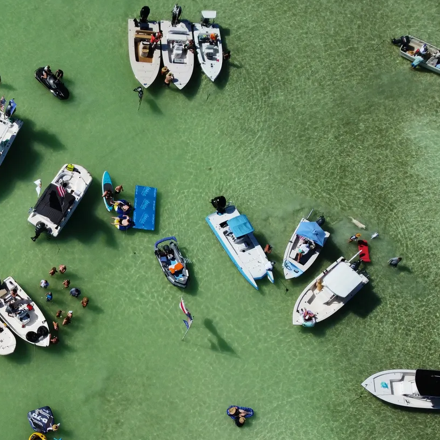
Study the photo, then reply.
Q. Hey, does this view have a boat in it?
Yes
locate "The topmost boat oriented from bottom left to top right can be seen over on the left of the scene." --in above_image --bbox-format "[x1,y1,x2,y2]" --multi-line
[29,165,90,239]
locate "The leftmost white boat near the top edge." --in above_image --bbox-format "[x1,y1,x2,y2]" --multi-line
[129,5,160,88]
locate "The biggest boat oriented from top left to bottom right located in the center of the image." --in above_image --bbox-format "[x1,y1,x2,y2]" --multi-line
[205,194,283,291]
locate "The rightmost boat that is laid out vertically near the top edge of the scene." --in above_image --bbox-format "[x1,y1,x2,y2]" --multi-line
[195,10,222,82]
